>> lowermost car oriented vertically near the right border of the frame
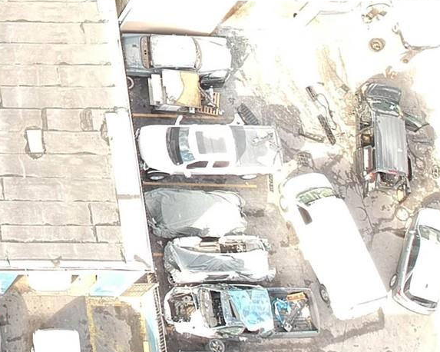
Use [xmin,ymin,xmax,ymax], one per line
[391,207,440,317]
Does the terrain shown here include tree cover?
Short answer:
No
